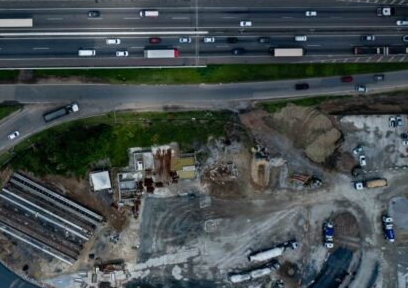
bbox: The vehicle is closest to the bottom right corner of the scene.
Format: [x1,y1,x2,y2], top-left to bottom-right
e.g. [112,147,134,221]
[380,214,396,244]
